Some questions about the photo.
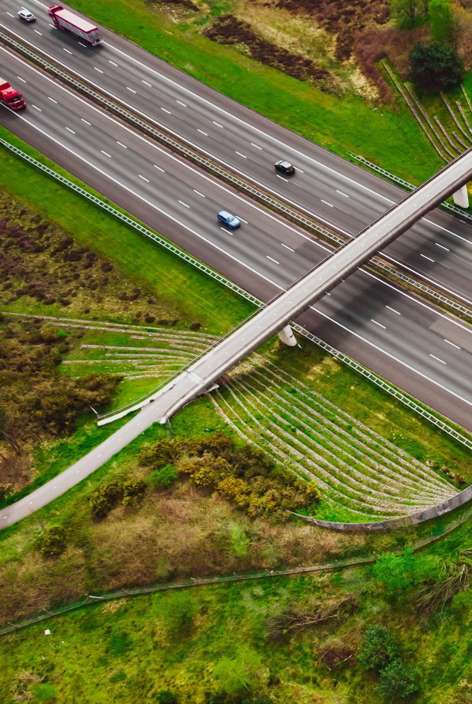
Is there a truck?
Yes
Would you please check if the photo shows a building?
No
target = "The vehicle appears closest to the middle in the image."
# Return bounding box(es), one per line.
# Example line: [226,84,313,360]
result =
[217,212,242,231]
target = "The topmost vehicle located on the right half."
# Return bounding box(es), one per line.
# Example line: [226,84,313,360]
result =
[274,162,296,176]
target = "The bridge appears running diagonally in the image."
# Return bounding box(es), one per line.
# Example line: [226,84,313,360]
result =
[92,147,472,429]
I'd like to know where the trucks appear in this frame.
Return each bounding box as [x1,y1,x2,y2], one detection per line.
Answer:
[0,79,27,111]
[49,7,105,46]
